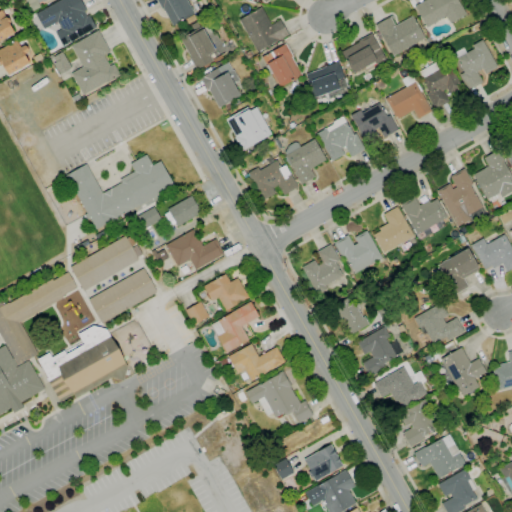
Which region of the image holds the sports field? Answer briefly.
left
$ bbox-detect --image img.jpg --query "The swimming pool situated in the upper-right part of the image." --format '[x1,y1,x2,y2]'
[432,24,452,36]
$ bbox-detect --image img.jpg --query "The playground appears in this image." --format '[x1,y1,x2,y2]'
[58,291,95,343]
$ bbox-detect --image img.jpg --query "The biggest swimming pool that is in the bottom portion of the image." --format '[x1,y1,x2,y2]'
[204,328,218,348]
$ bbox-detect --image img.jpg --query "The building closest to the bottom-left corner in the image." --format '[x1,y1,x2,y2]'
[0,345,44,416]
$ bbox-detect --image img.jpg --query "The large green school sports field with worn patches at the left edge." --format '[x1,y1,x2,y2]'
[0,118,65,289]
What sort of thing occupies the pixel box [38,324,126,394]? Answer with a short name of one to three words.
building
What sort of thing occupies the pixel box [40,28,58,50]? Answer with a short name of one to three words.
swimming pool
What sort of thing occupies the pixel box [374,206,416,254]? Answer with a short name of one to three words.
house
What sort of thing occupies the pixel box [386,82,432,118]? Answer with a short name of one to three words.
house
